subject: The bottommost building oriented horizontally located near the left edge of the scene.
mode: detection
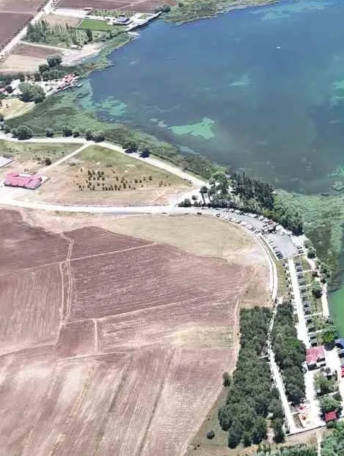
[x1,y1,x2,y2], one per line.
[2,173,49,190]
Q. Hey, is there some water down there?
Yes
